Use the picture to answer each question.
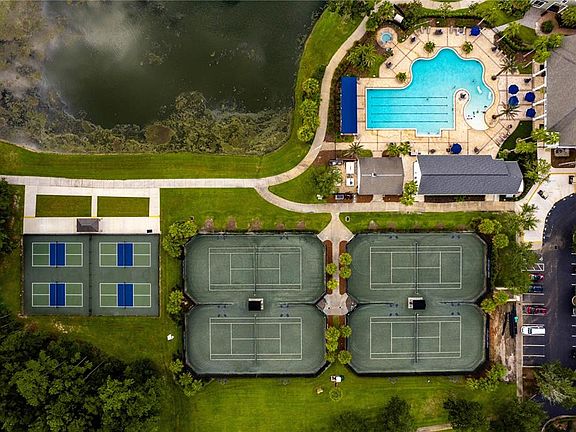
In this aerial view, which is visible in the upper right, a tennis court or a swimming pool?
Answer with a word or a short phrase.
swimming pool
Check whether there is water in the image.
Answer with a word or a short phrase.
Yes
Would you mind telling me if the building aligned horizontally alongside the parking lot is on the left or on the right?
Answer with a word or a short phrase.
right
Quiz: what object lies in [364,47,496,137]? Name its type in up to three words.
swimming pool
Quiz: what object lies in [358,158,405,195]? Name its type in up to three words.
building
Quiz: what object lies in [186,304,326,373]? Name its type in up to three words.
tennis court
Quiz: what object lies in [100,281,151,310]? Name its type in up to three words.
sports court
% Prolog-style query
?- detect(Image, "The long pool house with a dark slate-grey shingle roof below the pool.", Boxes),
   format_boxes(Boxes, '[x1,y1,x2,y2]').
[416,155,526,200]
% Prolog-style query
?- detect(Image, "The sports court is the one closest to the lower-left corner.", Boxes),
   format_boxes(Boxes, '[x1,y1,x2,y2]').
[32,281,83,309]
